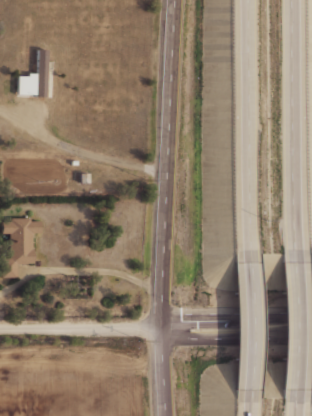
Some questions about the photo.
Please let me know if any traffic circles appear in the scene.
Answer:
No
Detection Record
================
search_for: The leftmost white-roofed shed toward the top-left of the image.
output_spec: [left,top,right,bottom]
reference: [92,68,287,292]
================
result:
[18,74,40,97]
